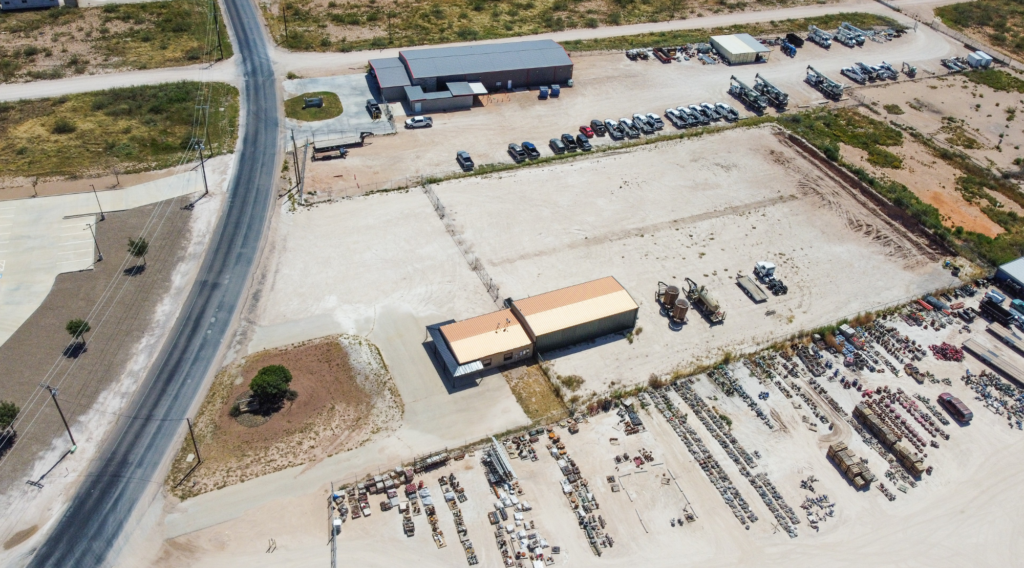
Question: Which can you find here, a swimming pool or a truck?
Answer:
truck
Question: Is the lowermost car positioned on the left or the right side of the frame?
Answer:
right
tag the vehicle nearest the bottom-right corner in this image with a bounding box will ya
[938,395,973,425]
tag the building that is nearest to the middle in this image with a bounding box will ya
[427,275,640,388]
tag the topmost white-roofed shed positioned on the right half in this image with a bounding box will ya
[711,32,769,63]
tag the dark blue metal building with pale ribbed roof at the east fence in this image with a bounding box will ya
[992,262,1024,299]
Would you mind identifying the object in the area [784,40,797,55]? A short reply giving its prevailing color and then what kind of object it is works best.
blue vehicle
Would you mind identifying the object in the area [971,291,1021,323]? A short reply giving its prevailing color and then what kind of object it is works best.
black trailer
